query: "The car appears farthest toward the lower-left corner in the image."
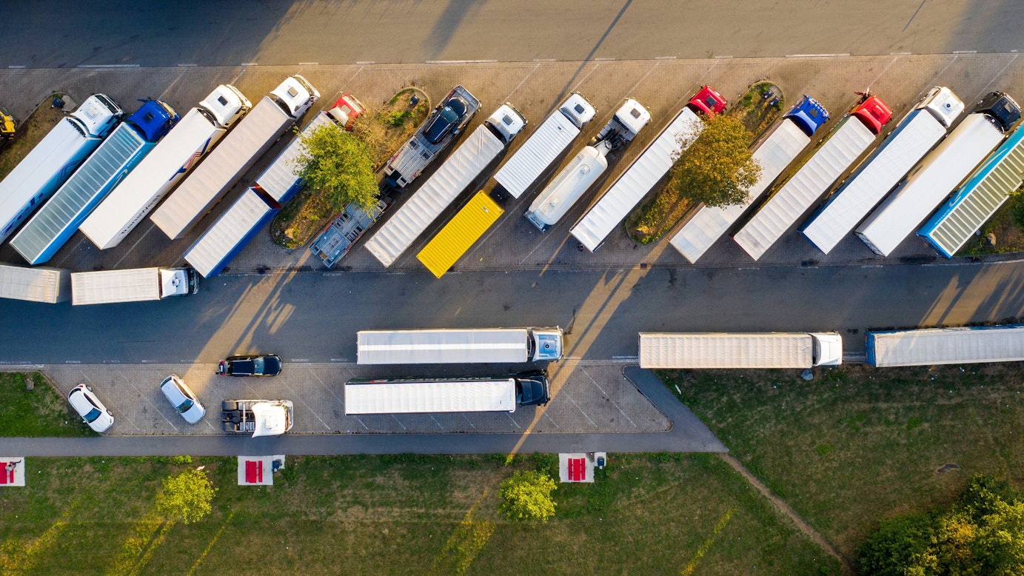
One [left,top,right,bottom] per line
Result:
[69,382,114,434]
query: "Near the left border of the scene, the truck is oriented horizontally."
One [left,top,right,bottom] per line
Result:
[0,263,204,305]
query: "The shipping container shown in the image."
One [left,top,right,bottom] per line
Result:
[416,188,506,278]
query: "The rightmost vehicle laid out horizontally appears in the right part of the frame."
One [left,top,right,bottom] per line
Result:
[862,323,1024,367]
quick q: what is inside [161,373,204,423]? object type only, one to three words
car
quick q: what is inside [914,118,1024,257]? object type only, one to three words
truck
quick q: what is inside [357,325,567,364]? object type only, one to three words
truck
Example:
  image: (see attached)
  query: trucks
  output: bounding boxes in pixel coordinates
[665,93,831,263]
[150,70,321,240]
[9,90,184,264]
[357,325,567,364]
[851,82,1024,255]
[345,371,551,415]
[914,118,1024,257]
[79,80,253,250]
[727,86,896,260]
[222,402,294,441]
[568,81,730,253]
[862,323,1024,367]
[494,88,600,199]
[794,82,966,254]
[636,330,847,369]
[364,99,531,267]
[183,89,371,279]
[523,97,652,234]
[0,93,127,244]
[0,263,204,305]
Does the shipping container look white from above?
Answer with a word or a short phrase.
No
